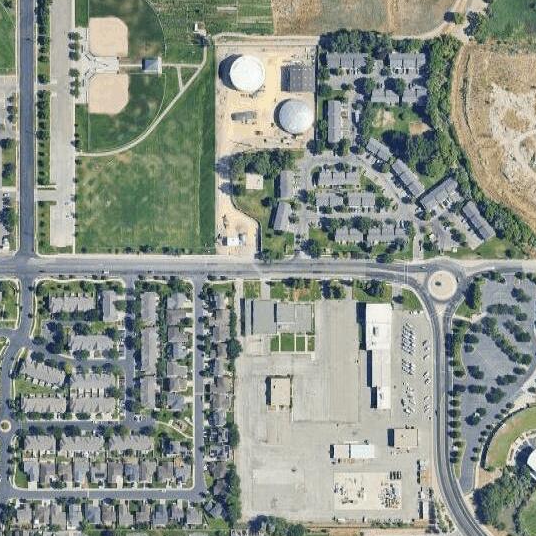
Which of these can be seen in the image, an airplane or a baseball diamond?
baseball diamond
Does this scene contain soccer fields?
No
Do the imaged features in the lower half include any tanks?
No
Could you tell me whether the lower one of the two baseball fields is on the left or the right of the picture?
left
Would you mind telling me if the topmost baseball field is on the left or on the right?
left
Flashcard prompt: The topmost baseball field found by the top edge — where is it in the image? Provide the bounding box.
[82,15,129,59]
